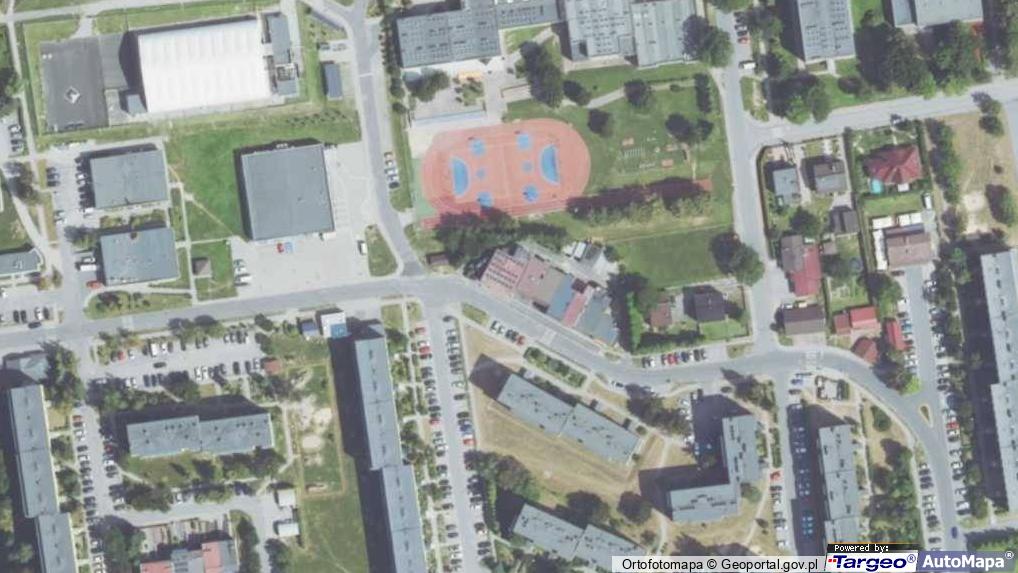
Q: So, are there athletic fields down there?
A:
Yes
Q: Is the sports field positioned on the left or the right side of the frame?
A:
right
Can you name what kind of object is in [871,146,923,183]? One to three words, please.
house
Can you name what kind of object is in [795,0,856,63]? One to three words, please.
building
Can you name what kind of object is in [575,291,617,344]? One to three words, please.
building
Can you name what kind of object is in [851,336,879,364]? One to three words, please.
shed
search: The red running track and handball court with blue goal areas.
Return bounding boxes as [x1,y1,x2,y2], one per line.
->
[411,117,713,233]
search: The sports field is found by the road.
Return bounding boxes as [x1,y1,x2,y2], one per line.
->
[612,230,738,288]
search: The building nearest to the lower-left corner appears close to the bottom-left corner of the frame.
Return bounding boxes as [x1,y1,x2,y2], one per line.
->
[37,511,81,573]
